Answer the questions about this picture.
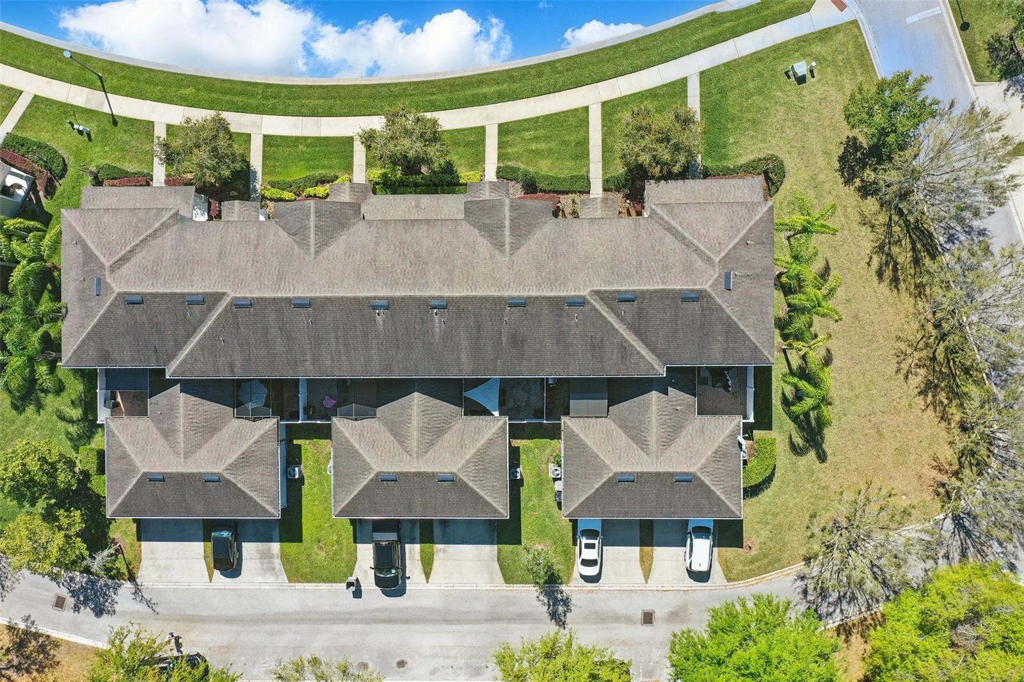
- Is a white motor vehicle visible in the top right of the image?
No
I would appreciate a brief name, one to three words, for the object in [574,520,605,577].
car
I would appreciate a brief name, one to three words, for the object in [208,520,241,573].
car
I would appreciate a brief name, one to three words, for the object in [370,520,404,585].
truck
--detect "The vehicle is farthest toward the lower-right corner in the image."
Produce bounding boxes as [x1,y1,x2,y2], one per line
[684,520,717,572]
